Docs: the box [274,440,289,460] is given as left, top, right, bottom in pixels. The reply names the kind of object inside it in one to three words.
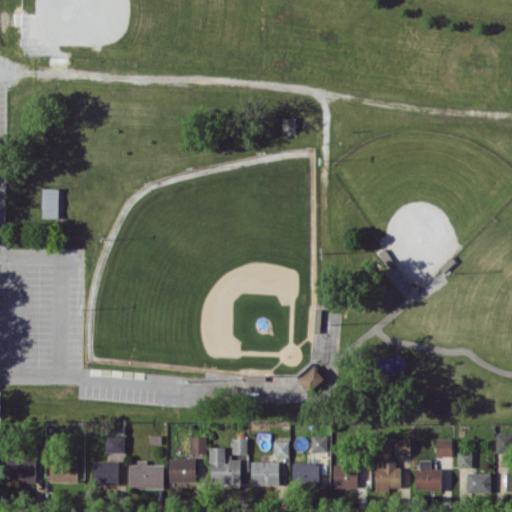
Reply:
building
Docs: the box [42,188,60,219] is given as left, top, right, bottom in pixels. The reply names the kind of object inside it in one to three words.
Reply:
shed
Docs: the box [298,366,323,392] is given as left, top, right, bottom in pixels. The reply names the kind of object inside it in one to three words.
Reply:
building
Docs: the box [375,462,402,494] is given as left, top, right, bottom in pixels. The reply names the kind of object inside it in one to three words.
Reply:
house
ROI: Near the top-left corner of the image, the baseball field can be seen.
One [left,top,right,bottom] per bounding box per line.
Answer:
[35,0,128,58]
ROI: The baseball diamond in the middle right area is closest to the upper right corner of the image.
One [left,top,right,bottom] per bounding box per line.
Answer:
[332,130,512,291]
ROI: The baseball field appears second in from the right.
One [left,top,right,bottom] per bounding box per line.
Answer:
[89,149,317,378]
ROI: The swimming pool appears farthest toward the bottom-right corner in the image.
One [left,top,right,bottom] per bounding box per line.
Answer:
[294,436,310,453]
